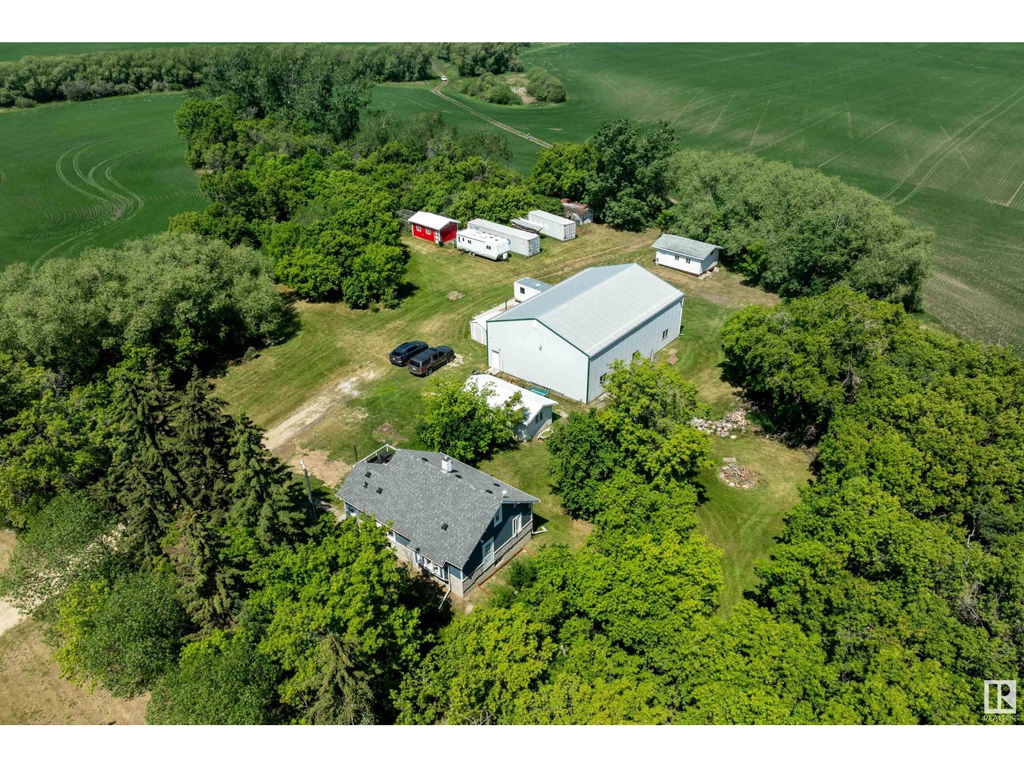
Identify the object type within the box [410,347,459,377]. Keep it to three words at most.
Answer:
car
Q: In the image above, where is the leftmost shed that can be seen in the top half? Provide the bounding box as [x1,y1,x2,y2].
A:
[408,212,460,244]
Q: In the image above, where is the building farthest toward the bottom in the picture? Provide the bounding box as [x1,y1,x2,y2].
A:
[335,444,550,604]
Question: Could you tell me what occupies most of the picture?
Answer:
trees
